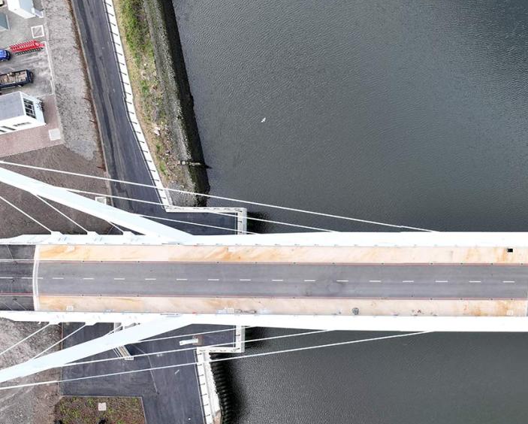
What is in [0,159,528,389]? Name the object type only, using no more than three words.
bridge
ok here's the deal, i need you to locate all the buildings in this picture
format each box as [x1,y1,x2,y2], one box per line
[5,0,34,18]
[0,11,12,32]
[0,93,45,133]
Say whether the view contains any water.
Yes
